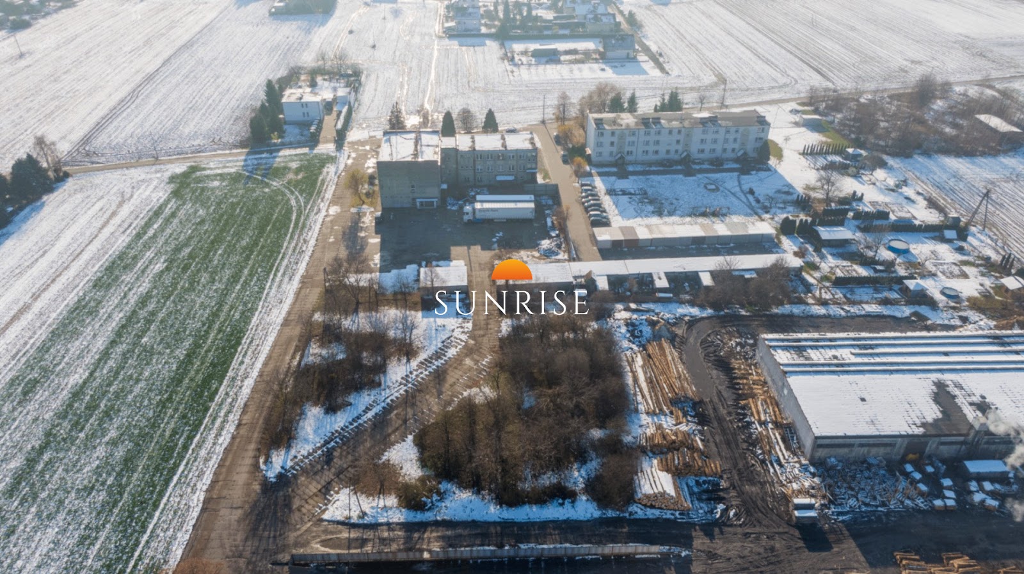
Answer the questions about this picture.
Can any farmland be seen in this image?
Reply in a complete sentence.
Yes, the picture does contain farmland.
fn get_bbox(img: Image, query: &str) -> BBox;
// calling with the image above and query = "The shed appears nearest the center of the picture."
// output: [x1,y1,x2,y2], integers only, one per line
[493,262,572,299]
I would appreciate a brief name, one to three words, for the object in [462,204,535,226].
truck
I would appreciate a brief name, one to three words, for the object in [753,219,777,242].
building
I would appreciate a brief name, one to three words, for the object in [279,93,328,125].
house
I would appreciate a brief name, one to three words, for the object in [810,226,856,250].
shed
